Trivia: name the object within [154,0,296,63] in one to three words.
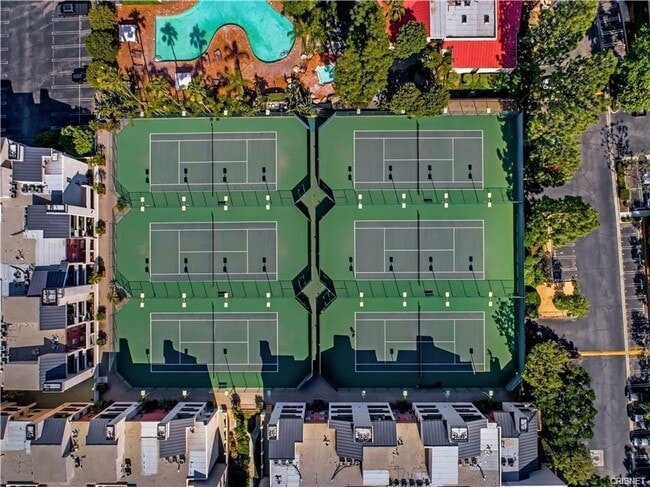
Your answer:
swimming pool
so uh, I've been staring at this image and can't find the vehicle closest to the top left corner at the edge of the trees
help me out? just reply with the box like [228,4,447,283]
[56,1,88,17]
